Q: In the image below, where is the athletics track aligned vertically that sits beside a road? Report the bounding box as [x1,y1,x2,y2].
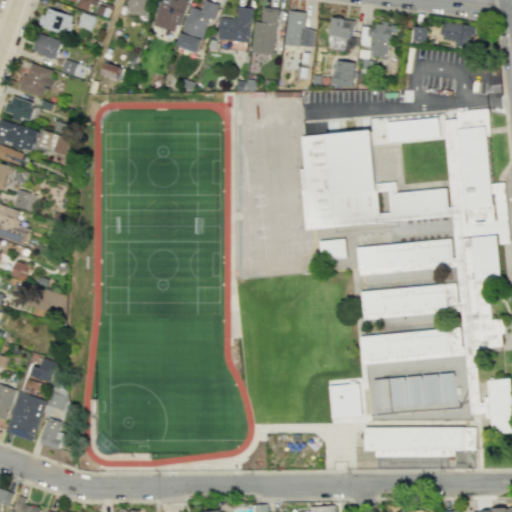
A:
[85,102,254,466]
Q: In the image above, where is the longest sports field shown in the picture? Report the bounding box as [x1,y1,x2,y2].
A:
[90,109,247,460]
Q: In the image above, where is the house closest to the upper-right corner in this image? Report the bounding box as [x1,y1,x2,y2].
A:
[443,23,477,46]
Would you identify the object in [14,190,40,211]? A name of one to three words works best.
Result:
house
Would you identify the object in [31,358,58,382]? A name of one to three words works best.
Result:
house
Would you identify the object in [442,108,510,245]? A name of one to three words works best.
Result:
building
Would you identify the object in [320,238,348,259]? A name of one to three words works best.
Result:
building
